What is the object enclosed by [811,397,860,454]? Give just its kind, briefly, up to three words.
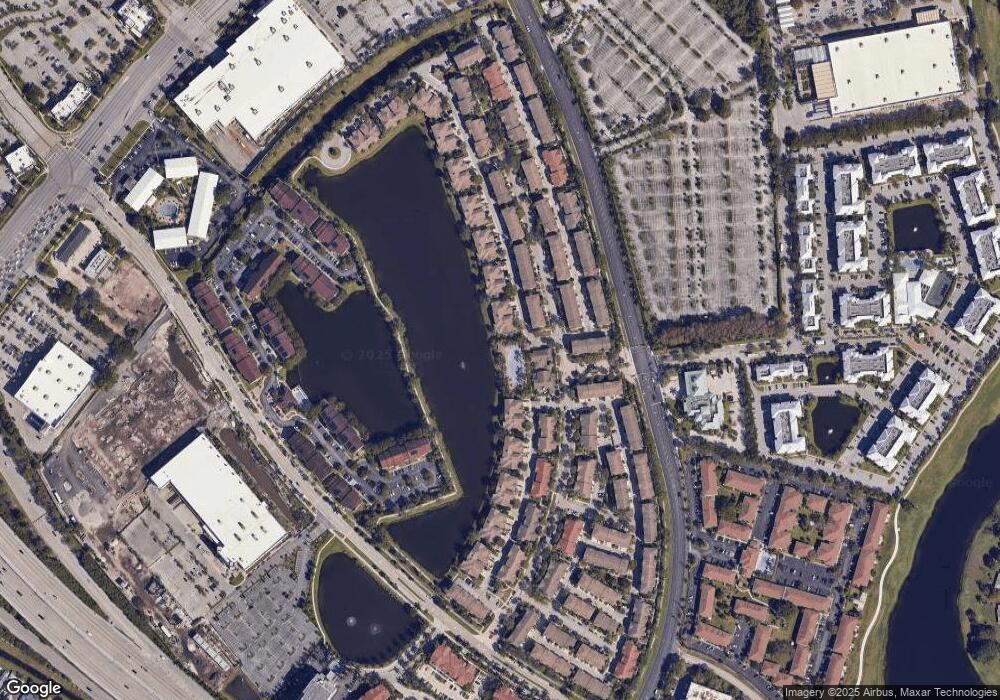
pond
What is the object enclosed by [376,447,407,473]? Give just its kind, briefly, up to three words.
building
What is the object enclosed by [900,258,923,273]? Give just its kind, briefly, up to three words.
swimming pool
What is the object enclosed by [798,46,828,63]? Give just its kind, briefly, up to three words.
greenhouse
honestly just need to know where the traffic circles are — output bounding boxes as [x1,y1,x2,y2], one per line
[320,138,352,169]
